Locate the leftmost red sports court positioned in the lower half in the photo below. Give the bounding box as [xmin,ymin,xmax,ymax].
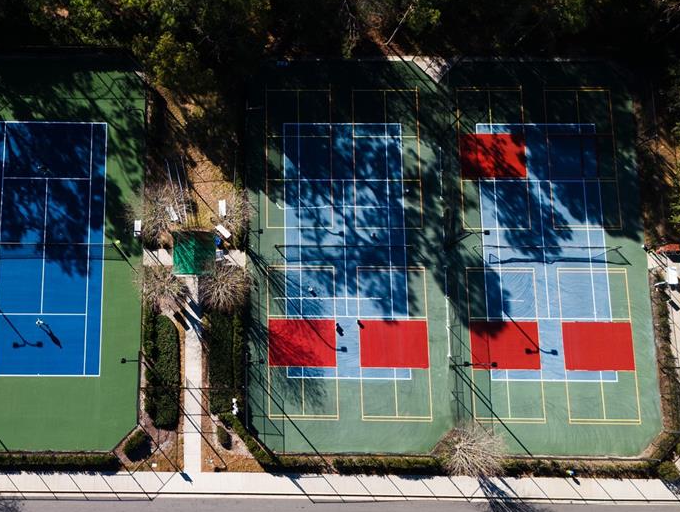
[268,263,339,422]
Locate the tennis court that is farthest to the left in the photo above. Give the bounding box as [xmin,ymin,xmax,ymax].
[0,63,147,453]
